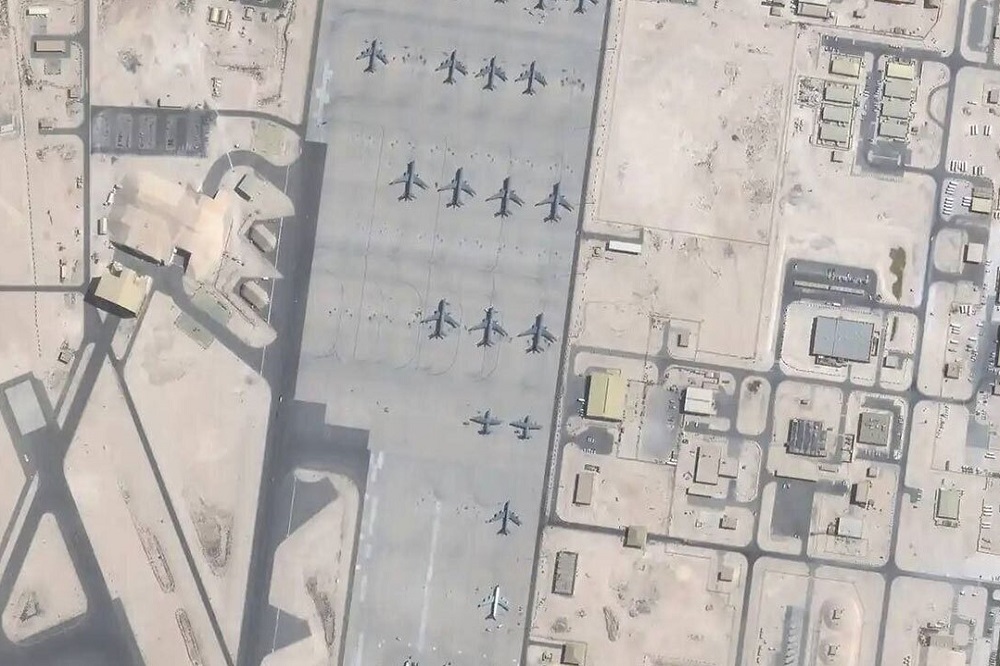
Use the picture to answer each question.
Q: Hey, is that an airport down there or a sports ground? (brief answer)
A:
airport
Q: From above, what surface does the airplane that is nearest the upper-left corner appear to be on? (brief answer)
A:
apron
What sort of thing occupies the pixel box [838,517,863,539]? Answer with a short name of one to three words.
building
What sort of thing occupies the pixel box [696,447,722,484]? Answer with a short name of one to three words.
building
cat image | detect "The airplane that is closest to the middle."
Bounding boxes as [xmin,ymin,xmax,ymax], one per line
[472,306,510,346]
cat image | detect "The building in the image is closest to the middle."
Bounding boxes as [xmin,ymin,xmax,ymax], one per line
[585,371,626,419]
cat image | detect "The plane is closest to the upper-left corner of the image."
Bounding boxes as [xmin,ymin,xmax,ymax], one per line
[359,38,391,71]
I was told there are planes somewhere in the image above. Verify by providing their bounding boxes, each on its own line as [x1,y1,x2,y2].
[472,306,510,346]
[539,180,576,220]
[492,500,522,534]
[474,410,503,434]
[423,297,461,337]
[538,0,549,8]
[512,416,541,439]
[438,48,470,82]
[479,55,509,88]
[441,165,479,205]
[359,38,391,71]
[394,158,432,198]
[521,312,560,352]
[481,585,512,619]
[518,60,549,93]
[489,175,527,215]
